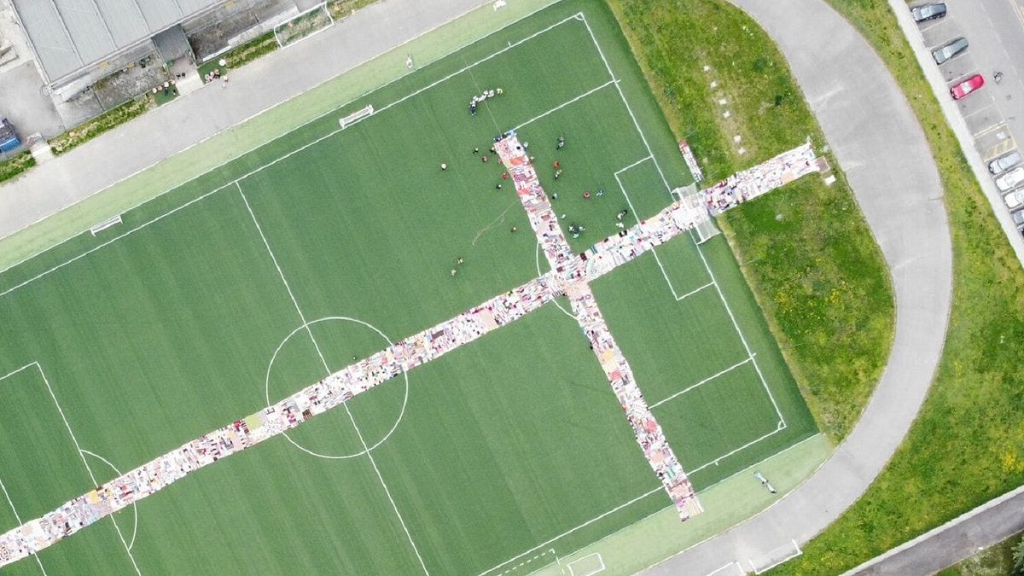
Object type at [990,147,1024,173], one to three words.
car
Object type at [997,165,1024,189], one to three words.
car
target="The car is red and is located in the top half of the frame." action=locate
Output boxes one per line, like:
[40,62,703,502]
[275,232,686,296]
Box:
[952,71,988,96]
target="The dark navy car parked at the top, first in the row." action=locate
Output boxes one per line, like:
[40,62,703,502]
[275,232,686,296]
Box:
[914,0,952,23]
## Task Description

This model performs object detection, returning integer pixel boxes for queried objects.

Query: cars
[935,36,971,61]
[990,147,1024,173]
[952,71,988,96]
[914,0,952,23]
[997,165,1024,189]
[1005,185,1024,206]
[1014,207,1024,223]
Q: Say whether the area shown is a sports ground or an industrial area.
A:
sports ground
